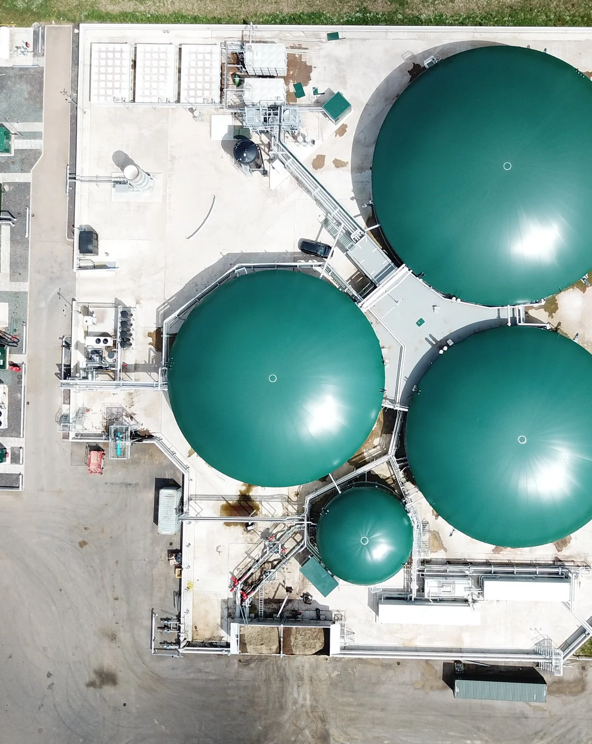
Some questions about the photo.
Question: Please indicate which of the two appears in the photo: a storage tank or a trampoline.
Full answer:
There is a storage tank in the scene.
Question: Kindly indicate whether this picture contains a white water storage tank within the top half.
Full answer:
Yes, there is a white water storage tank within the top half.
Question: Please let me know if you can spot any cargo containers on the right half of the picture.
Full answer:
Yes, you'll find a cargo container on the right half of the picture.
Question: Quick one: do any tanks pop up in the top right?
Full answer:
Yes, I can see a tank in the top right.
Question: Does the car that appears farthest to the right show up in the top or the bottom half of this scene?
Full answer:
Seen from above, the car that appears farthest to the right lies in the top half of the view.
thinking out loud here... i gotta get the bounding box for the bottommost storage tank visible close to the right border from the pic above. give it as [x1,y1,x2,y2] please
[404,320,592,548]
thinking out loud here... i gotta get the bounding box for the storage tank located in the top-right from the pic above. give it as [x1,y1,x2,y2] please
[369,46,592,308]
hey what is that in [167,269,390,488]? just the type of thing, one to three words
storage tank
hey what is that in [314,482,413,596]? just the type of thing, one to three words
storage tank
